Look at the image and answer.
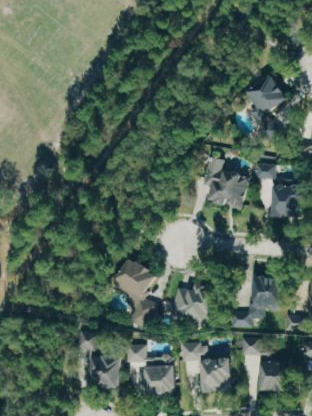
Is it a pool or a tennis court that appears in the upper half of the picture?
pool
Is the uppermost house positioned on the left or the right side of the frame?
right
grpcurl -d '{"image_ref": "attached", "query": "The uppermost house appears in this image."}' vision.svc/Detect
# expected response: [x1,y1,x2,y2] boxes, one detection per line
[246,74,288,113]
